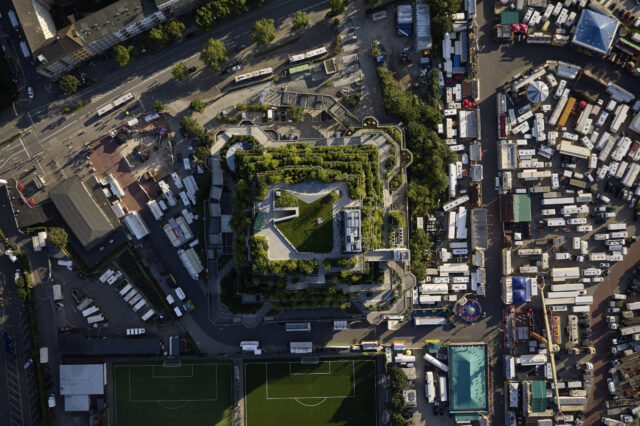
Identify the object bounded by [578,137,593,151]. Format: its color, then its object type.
white camper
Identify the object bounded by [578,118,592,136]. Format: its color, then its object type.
white camper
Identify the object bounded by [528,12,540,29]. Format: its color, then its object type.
white vehicle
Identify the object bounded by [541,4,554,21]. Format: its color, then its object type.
white vehicle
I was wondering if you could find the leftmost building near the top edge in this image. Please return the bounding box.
[12,0,59,51]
